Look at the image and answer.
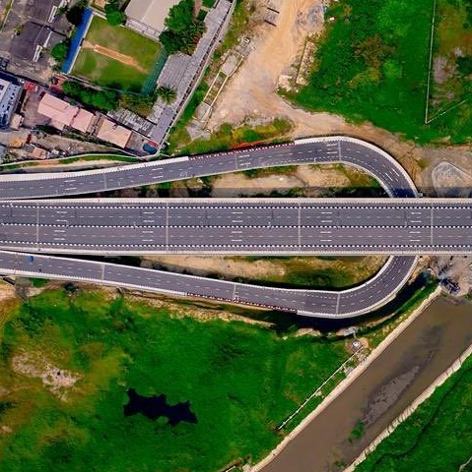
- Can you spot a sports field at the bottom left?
No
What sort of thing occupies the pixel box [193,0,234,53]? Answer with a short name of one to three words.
shed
